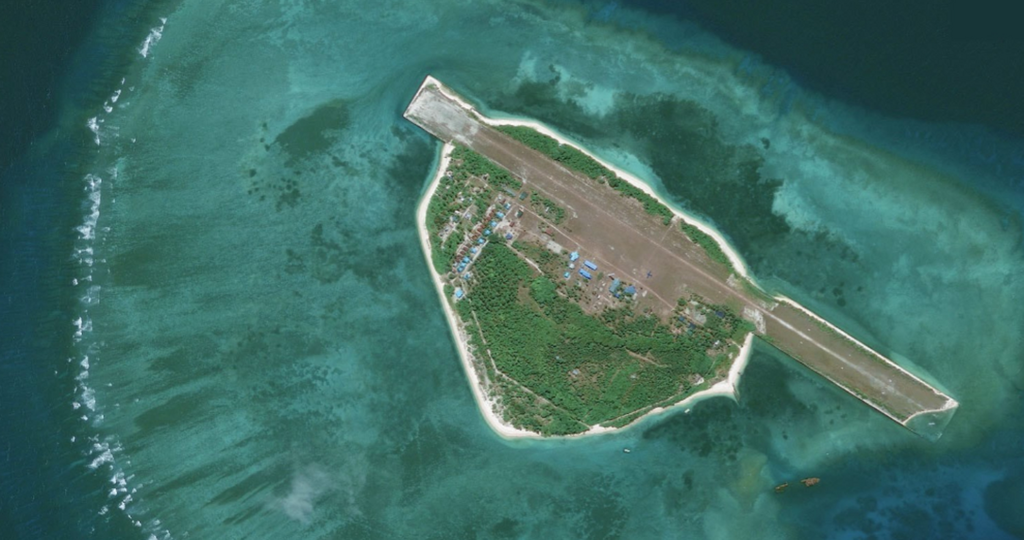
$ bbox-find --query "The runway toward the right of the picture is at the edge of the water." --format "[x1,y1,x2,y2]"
[409,88,942,420]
